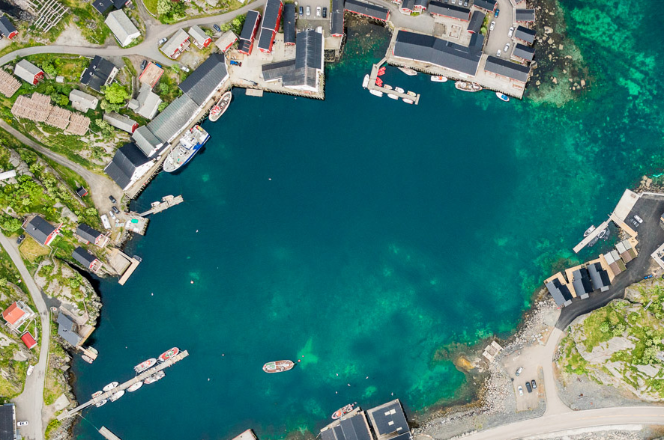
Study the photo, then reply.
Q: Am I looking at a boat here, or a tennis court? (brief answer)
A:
boat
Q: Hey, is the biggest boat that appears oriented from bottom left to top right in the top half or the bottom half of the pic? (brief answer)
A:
top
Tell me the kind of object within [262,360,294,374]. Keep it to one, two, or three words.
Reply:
boat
